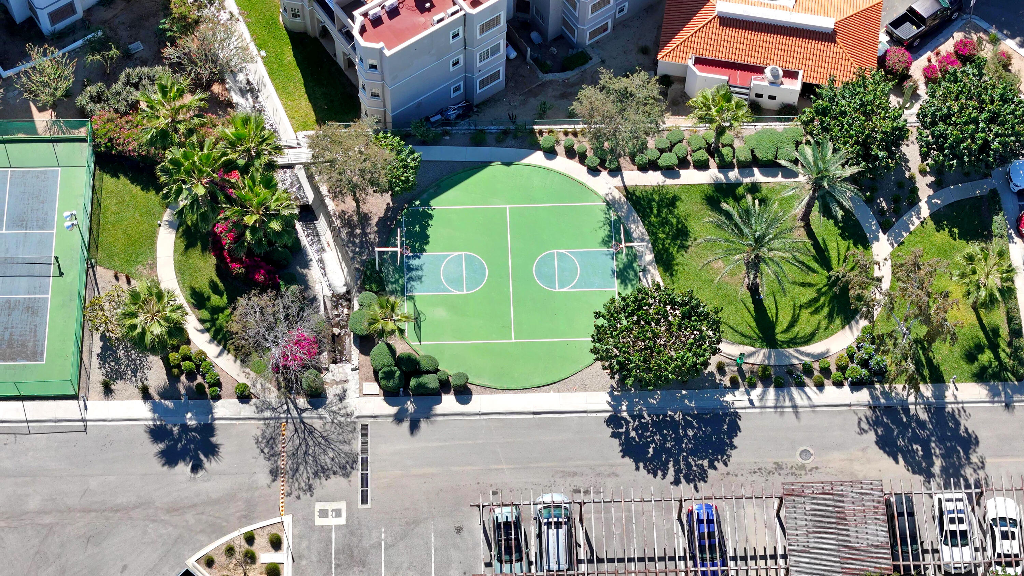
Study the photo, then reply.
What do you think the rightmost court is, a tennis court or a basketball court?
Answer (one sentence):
I'd identify the rightmost court as a basketball court.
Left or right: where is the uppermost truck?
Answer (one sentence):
The uppermost truck is on the right side of the image.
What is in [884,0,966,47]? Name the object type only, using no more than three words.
truck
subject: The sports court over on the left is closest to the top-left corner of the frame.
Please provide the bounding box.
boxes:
[0,135,93,399]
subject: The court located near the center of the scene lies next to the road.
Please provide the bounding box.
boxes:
[380,162,641,390]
